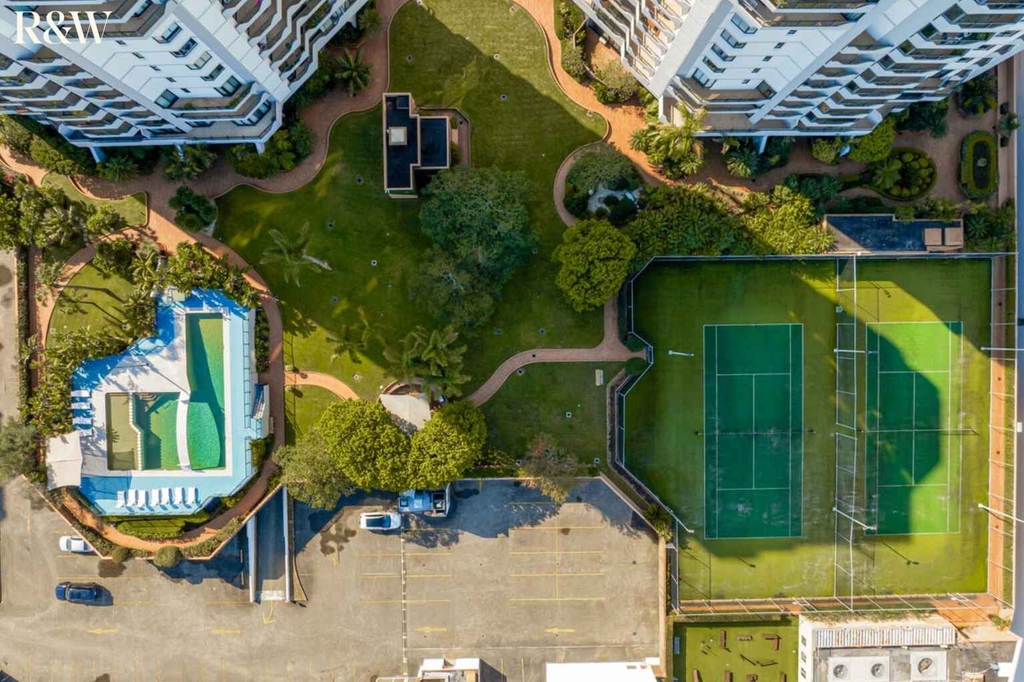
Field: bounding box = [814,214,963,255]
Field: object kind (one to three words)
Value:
house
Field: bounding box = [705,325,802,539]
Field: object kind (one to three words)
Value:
tennis court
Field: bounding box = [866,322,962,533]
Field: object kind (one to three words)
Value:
tennis court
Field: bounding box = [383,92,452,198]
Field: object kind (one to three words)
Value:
house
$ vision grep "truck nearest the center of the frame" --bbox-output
[400,488,449,515]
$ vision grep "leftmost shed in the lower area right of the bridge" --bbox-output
[252,382,277,437]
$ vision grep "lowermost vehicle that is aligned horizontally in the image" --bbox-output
[59,579,102,602]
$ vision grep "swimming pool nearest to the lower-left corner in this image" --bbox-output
[71,289,269,516]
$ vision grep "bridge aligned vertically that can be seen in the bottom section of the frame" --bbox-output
[176,394,193,471]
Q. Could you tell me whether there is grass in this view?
Yes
